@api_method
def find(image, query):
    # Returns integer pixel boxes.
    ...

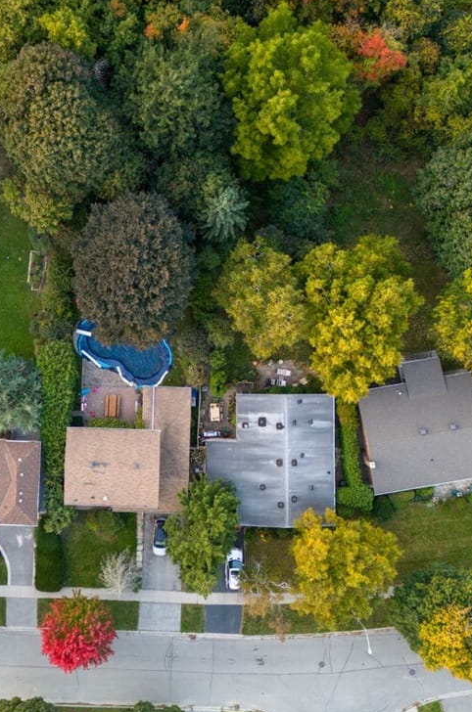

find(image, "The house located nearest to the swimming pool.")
[63,385,193,513]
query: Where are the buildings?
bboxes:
[351,351,472,495]
[63,385,193,513]
[203,392,336,529]
[0,439,41,526]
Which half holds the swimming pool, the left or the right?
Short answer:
left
